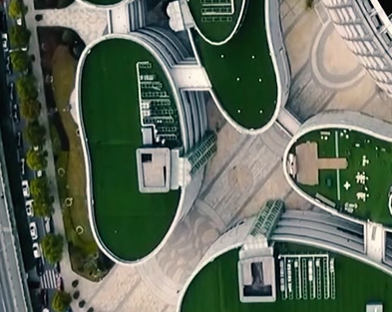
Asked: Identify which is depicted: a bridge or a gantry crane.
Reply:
bridge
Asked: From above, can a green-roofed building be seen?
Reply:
Yes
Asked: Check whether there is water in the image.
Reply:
No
